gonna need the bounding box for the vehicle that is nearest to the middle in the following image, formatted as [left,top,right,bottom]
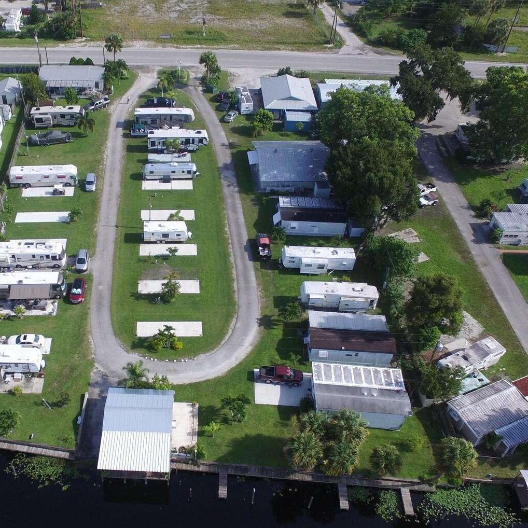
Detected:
[255,232,274,260]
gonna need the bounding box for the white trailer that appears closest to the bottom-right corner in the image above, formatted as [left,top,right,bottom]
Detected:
[301,282,380,315]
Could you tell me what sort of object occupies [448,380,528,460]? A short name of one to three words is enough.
house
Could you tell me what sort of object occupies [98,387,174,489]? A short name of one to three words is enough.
building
